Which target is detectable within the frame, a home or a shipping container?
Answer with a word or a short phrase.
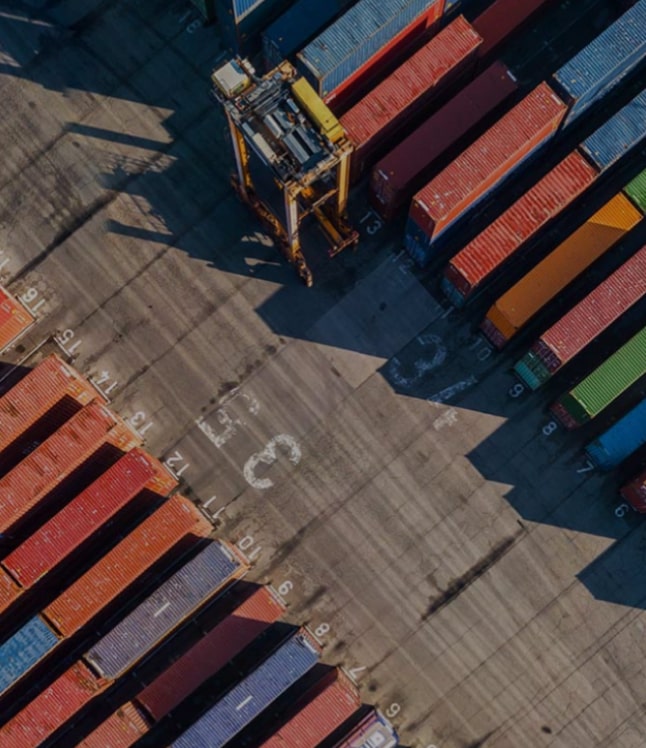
shipping container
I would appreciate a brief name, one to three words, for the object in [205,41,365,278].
work vehicle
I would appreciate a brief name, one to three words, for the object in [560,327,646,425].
shipping container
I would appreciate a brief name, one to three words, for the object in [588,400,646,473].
shipping container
